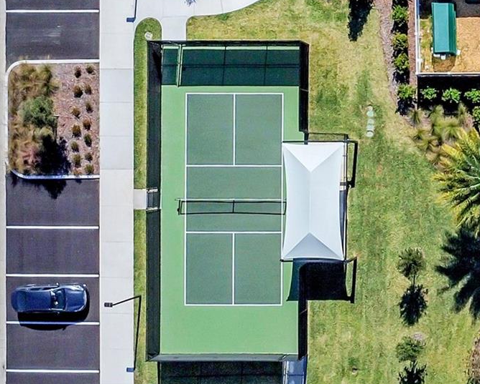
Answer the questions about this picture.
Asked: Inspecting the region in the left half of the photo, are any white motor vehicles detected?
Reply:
No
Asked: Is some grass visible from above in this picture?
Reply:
Yes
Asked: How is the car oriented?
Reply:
from side to side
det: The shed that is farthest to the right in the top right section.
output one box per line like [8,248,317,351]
[431,1,459,55]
